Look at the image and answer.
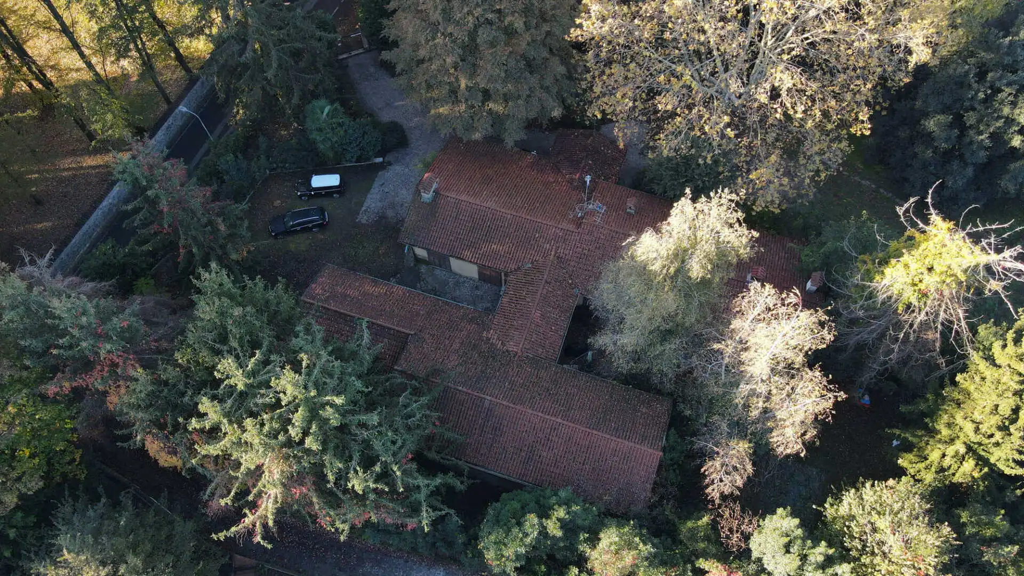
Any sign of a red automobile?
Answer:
No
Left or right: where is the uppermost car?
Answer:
left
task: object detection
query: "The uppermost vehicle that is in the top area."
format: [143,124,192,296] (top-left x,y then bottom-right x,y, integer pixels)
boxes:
[295,173,342,200]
